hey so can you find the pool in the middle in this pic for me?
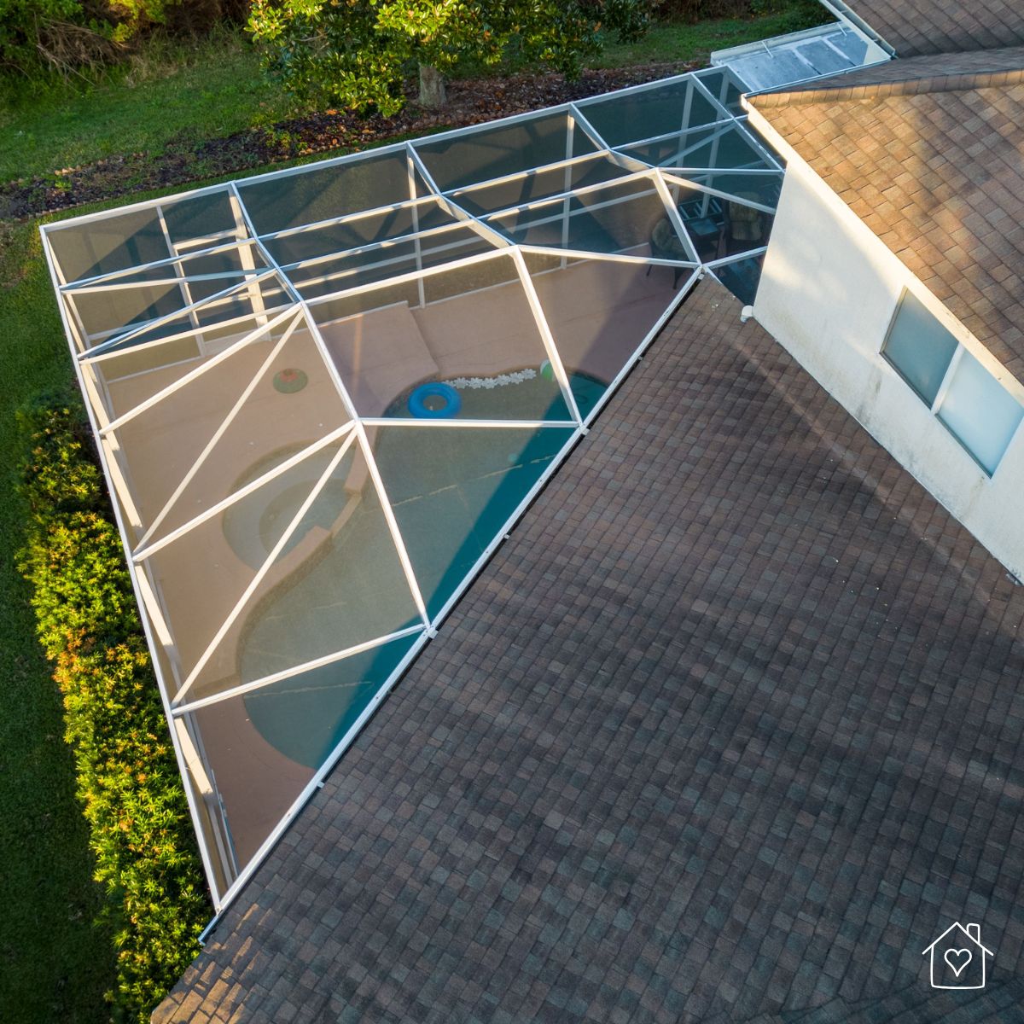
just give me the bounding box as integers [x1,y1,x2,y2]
[222,370,606,771]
